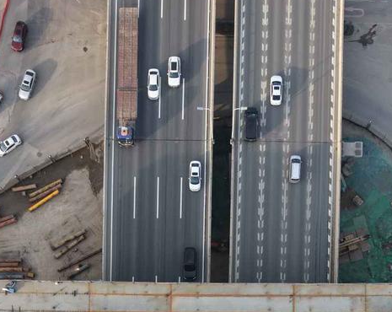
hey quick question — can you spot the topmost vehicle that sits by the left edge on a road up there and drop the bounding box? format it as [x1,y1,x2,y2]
[11,21,28,53]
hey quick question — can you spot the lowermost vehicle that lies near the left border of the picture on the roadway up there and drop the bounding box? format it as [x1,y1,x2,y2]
[0,133,23,158]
